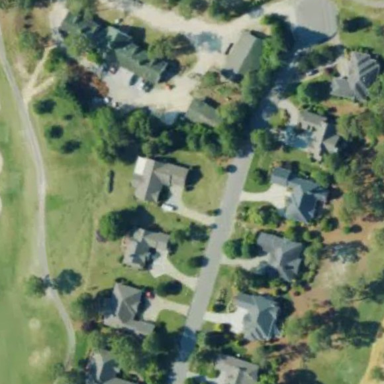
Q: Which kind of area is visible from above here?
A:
residential area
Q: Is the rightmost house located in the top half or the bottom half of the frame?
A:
top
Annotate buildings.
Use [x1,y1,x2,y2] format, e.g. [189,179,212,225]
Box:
[124,228,175,272]
[329,49,384,106]
[86,18,176,84]
[101,278,158,336]
[256,228,305,282]
[214,355,262,384]
[298,108,344,159]
[225,30,267,78]
[89,348,130,384]
[132,153,191,204]
[234,290,283,343]
[267,164,329,224]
